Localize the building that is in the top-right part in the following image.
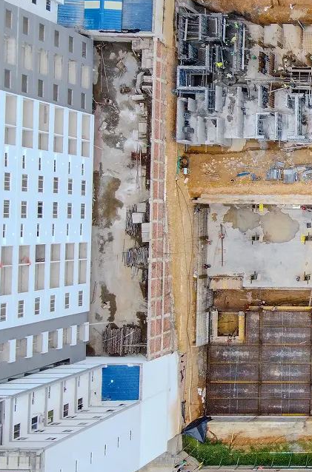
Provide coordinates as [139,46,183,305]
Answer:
[176,12,312,147]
